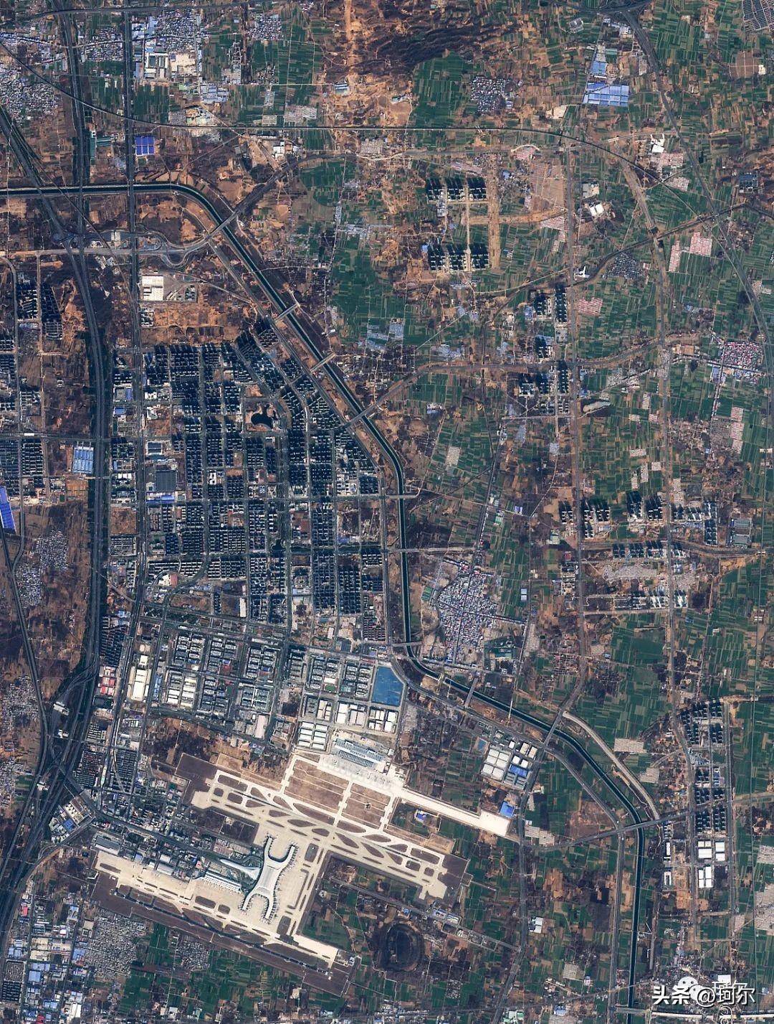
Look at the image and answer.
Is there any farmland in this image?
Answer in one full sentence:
Yes, farmland can be seen from above here.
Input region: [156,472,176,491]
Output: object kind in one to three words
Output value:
building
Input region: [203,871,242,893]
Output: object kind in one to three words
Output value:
building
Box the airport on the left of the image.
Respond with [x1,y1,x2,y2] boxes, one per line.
[91,749,510,996]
